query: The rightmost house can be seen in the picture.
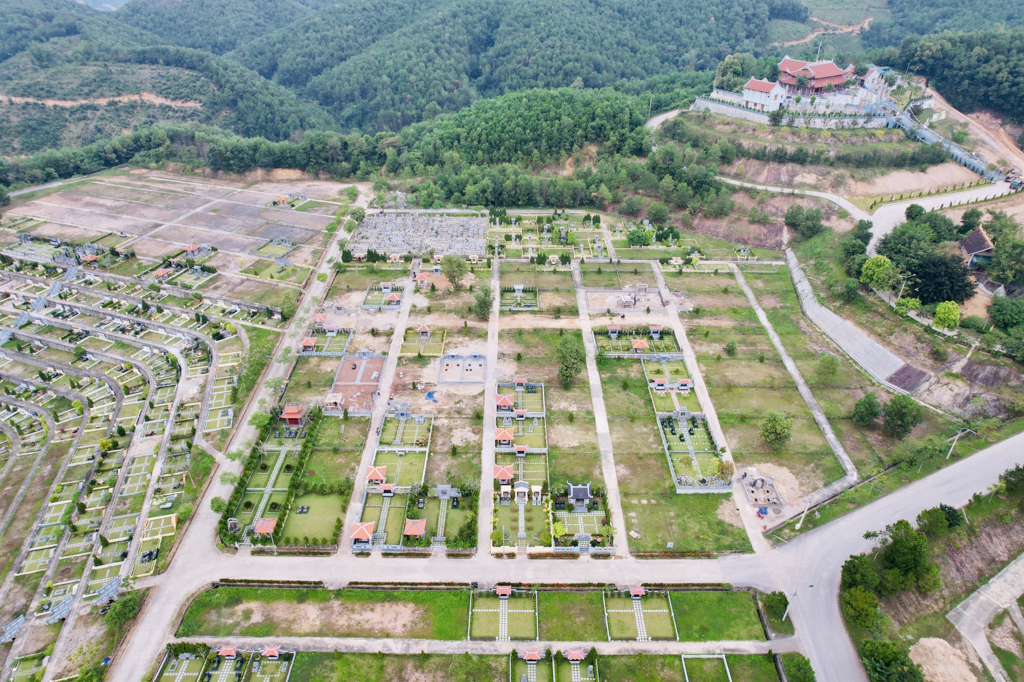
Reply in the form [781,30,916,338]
[960,221,1001,271]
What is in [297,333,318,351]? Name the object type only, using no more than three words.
gazebo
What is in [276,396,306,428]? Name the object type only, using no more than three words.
building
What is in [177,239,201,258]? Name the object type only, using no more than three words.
gazebo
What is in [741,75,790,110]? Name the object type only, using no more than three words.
house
